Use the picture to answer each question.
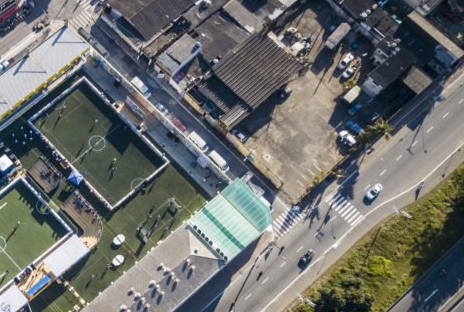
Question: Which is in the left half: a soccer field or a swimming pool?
soccer field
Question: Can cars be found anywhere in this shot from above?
Yes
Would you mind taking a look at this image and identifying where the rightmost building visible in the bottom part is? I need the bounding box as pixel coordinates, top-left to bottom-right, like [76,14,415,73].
[188,178,272,262]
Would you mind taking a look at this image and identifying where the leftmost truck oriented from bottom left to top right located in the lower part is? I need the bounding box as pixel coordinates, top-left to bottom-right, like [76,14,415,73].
[294,247,317,268]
